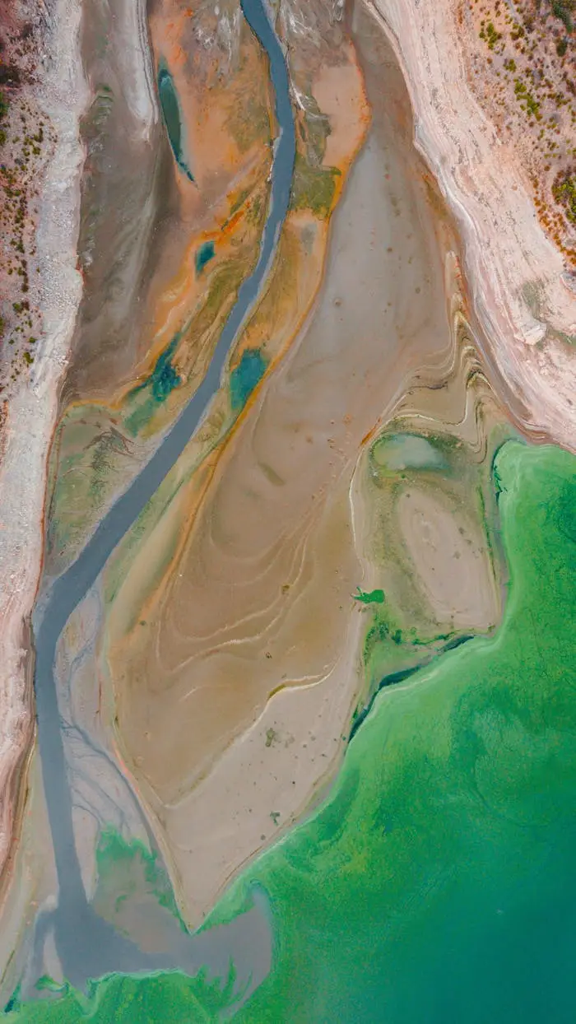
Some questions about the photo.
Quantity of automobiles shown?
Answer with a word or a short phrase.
0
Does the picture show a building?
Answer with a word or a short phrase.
No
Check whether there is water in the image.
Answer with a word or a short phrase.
Yes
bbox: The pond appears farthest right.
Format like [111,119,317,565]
[372,432,447,472]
